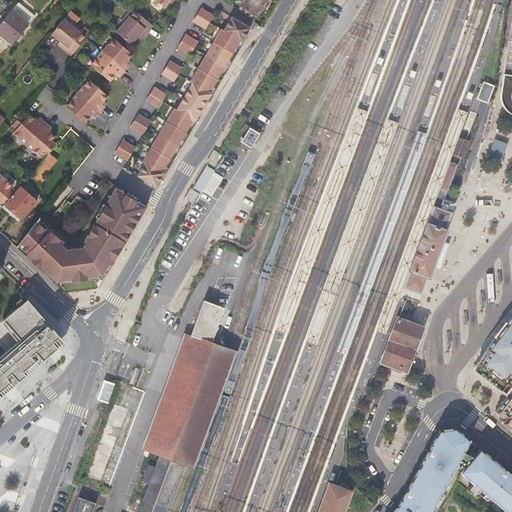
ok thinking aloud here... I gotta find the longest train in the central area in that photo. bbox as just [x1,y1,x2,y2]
[224,153,312,392]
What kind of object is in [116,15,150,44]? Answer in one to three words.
house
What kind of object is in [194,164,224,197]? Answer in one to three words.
building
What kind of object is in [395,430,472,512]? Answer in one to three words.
building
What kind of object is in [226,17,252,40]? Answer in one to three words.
house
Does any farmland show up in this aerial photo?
No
